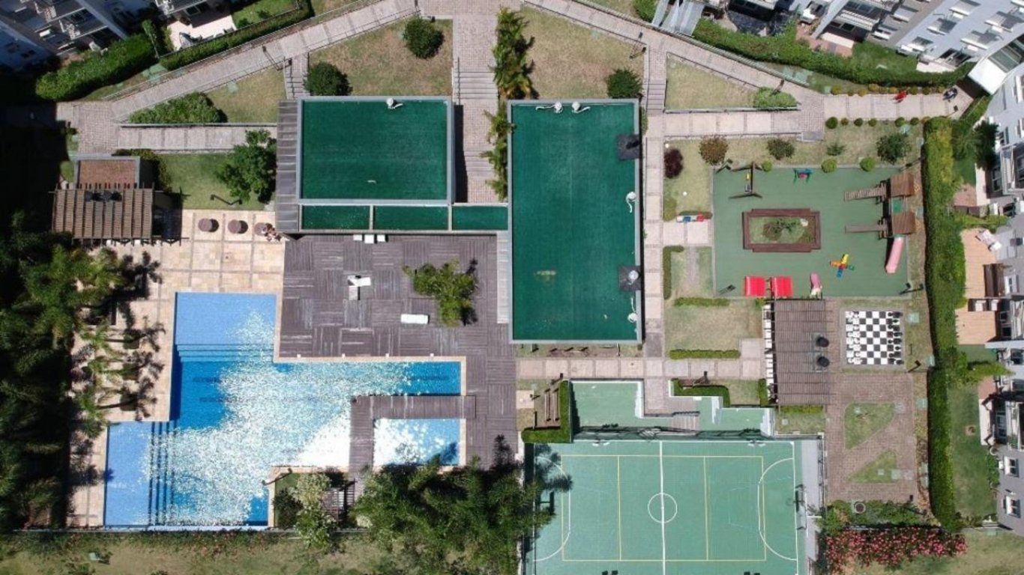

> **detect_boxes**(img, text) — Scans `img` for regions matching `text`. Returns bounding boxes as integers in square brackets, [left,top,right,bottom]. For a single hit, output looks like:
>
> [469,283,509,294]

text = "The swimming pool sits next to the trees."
[78,293,465,531]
